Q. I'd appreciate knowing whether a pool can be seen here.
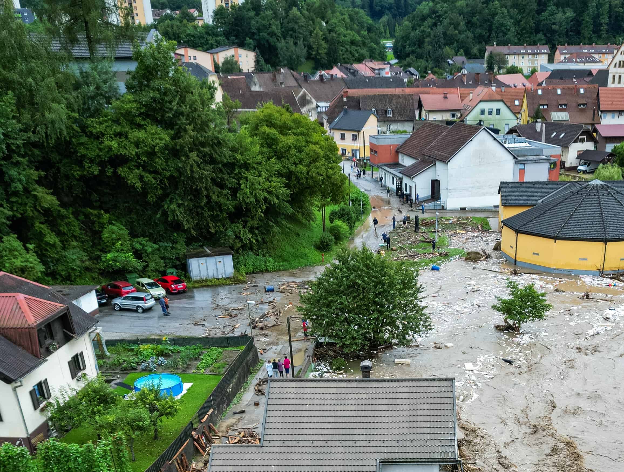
Yes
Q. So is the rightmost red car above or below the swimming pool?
above it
